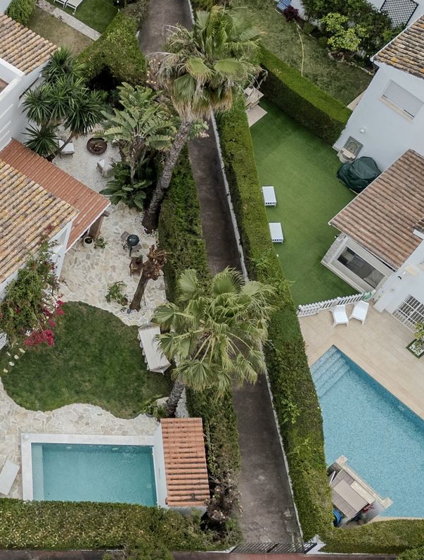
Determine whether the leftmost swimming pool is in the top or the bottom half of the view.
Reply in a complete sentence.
It is in the bottom half that the leftmost swimming pool appears.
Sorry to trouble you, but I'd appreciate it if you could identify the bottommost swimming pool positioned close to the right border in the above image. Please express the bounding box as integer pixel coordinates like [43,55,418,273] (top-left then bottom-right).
[310,349,424,518]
